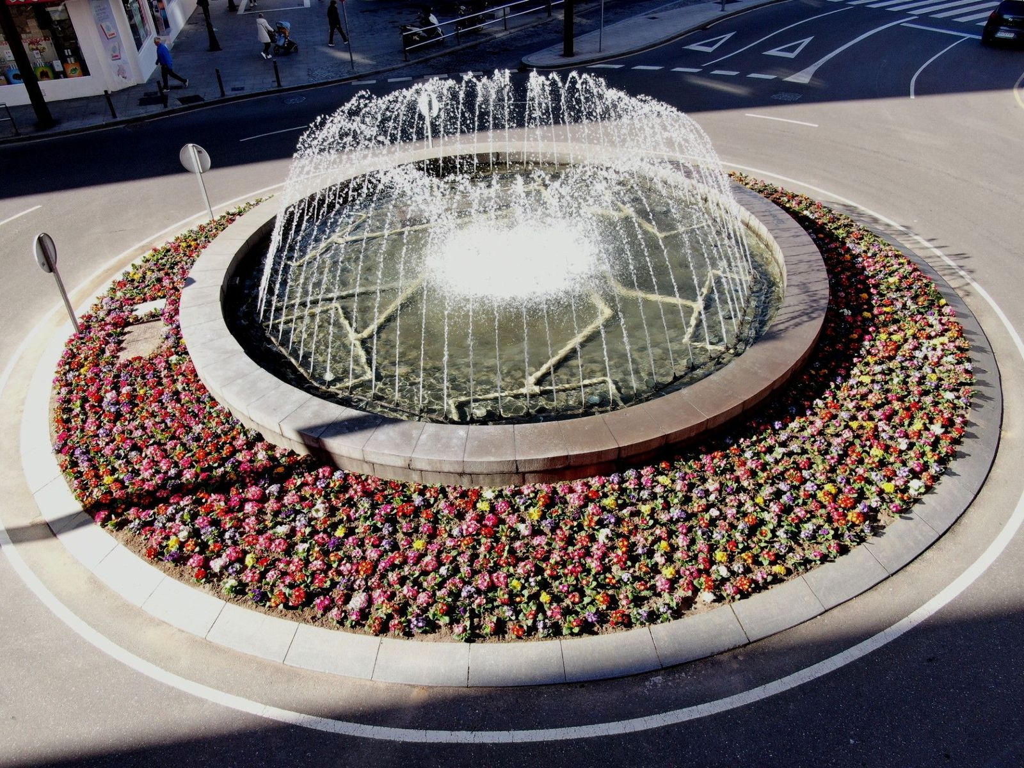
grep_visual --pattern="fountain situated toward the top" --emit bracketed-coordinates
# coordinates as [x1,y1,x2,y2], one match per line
[174,64,837,488]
